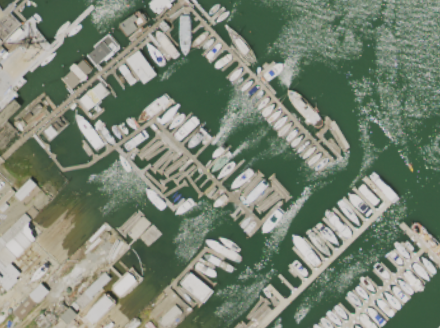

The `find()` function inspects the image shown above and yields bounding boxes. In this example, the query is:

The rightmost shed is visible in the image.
[179,270,215,307]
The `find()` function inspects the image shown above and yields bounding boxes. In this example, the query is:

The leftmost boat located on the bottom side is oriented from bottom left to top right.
[30,264,48,281]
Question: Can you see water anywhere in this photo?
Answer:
Yes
